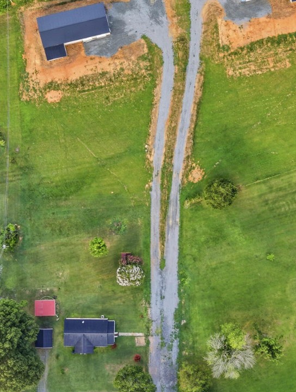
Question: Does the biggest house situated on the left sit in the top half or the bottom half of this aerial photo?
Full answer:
The top half of the photo is where the biggest house situated on the left is.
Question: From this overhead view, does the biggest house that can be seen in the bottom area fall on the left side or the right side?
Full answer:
The biggest house that can be seen in the bottom area sits on the left side.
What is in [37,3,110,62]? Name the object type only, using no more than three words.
house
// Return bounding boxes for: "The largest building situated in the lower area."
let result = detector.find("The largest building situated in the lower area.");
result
[63,318,114,355]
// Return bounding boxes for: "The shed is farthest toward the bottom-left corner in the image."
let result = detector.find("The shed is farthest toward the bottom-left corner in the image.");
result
[35,327,53,350]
